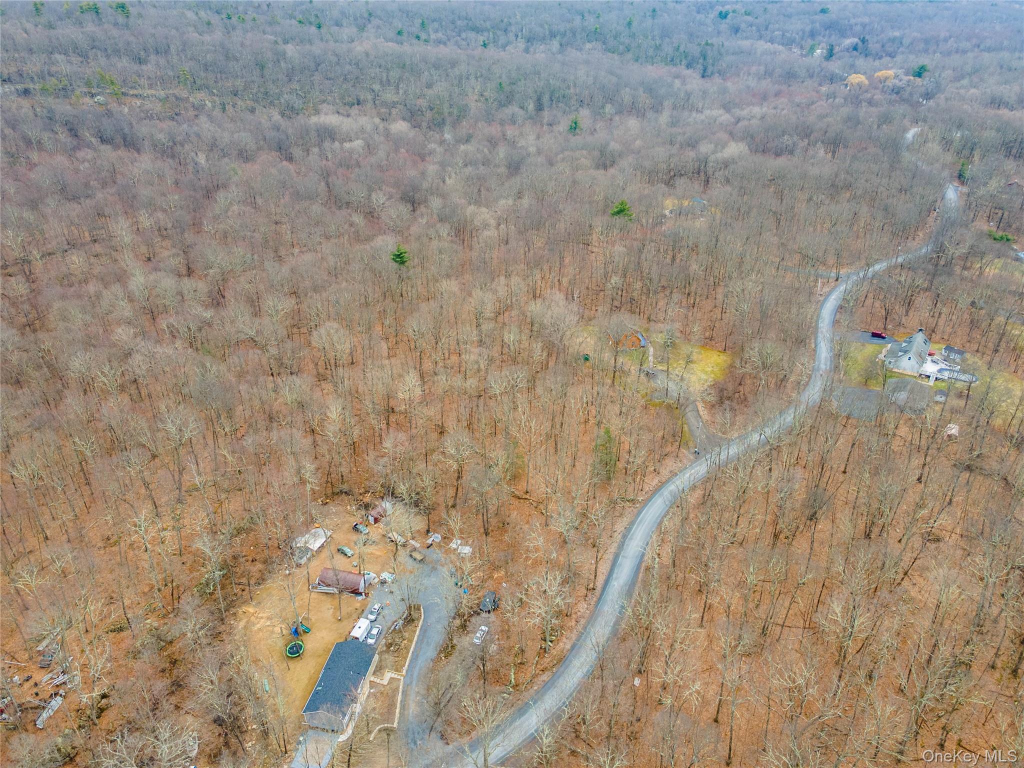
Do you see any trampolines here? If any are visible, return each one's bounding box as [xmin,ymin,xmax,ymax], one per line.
[283,639,305,659]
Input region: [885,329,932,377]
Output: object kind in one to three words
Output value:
house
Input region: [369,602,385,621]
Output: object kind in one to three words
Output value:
car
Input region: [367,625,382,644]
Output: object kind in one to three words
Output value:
car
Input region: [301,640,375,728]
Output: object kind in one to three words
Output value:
house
